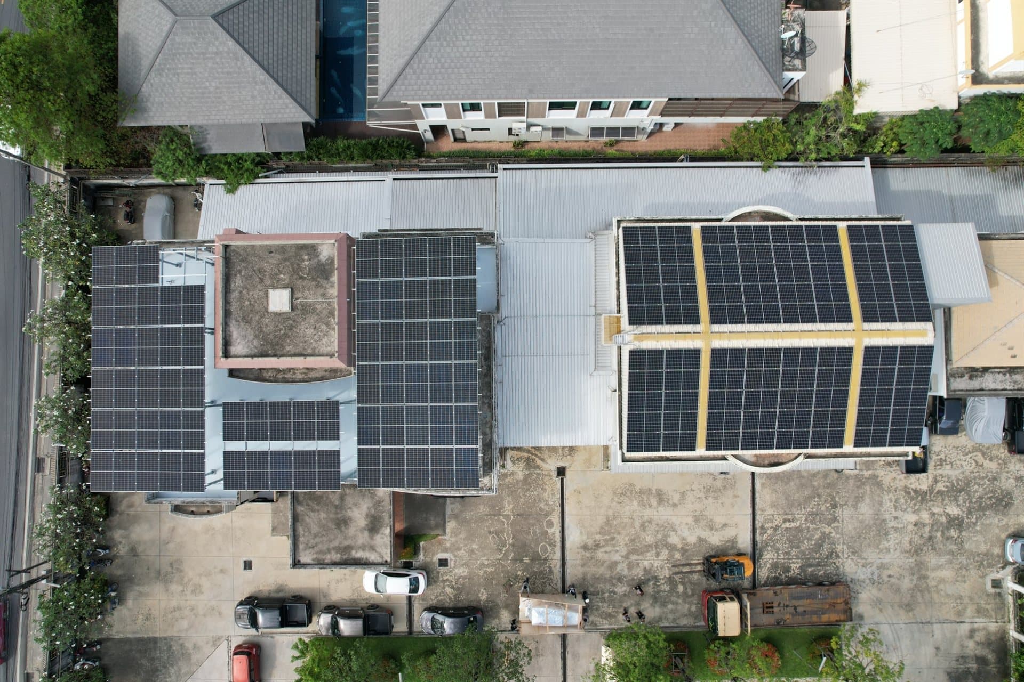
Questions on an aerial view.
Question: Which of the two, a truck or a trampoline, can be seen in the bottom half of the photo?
truck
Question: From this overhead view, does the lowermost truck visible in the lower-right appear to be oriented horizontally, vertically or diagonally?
horizontally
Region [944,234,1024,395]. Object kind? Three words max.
building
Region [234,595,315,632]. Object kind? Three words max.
truck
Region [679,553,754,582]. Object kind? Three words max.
work vehicle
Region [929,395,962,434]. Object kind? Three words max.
car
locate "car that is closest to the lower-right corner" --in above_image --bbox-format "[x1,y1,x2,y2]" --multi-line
[1000,535,1024,565]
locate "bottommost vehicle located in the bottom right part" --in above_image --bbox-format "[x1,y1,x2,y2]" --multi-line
[697,580,856,641]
